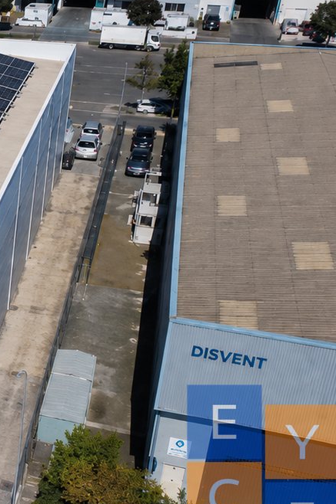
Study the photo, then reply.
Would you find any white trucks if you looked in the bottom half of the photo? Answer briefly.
No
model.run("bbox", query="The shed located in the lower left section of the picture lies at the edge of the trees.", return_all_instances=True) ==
[41,344,101,451]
